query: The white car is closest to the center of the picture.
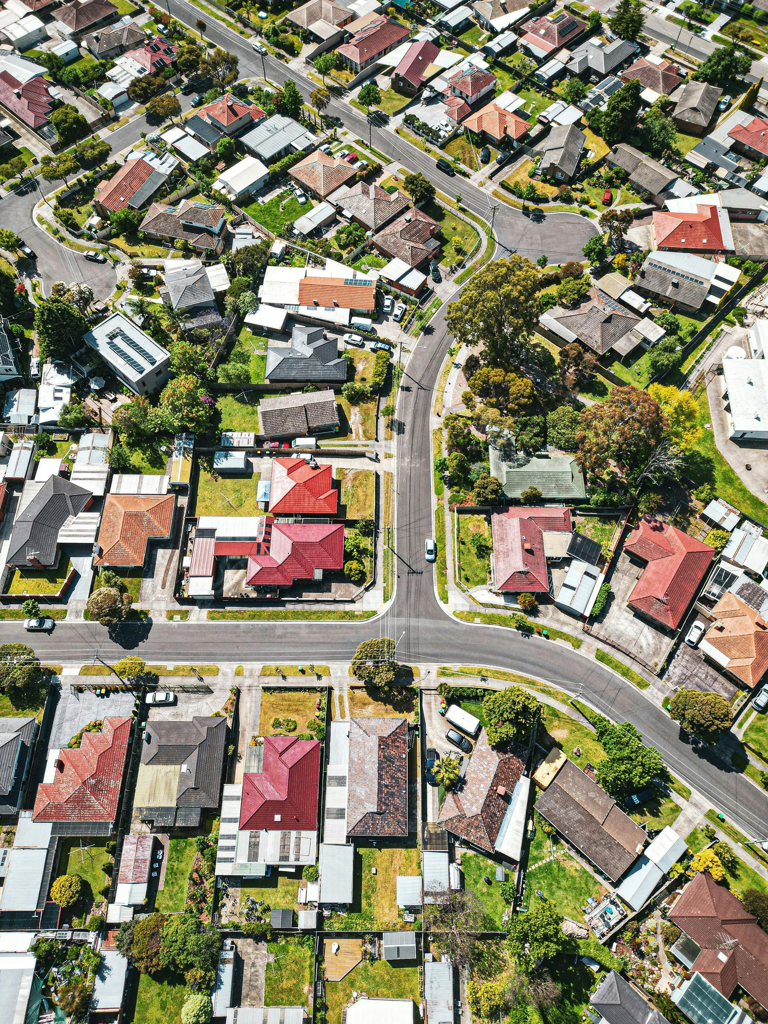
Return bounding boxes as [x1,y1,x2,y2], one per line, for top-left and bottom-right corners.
[424,538,436,562]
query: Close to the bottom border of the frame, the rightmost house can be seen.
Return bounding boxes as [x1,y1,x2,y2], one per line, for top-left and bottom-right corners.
[666,872,768,1024]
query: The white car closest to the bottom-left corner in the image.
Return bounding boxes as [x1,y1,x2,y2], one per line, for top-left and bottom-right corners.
[145,690,175,704]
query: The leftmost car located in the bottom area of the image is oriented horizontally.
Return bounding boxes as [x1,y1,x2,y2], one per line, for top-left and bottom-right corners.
[23,617,54,630]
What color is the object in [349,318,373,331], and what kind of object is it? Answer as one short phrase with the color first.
white vehicle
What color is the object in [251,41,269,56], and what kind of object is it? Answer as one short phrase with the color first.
white car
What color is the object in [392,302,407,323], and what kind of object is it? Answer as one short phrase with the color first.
white car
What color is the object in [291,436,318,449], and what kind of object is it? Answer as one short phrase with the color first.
white vehicle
